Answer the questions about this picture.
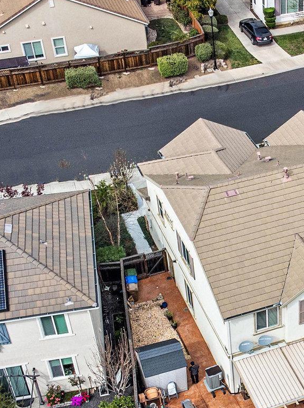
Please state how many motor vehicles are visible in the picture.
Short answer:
1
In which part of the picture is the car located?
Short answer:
top right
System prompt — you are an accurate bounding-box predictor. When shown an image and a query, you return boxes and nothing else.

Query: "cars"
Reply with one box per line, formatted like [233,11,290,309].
[239,17,275,39]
